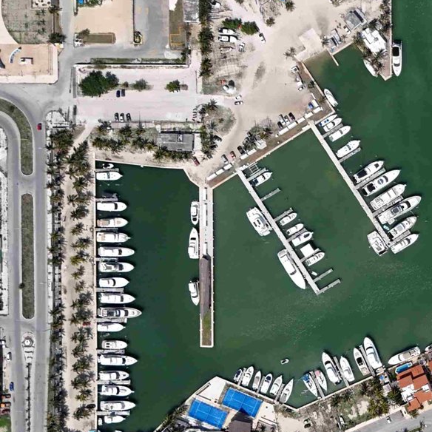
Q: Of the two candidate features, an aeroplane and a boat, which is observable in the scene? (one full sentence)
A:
There is a boat in the scene.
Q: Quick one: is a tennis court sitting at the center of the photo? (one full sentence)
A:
No, at the center of the photo there is no tennis court.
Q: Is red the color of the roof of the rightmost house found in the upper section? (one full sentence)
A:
No, the color of the roof of the rightmost house found in the upper section is white.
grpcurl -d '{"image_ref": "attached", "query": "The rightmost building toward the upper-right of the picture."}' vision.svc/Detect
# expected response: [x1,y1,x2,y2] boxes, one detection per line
[362,28,388,57]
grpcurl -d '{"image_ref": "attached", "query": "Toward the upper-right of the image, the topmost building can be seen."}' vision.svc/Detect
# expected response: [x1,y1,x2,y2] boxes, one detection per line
[344,7,368,31]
